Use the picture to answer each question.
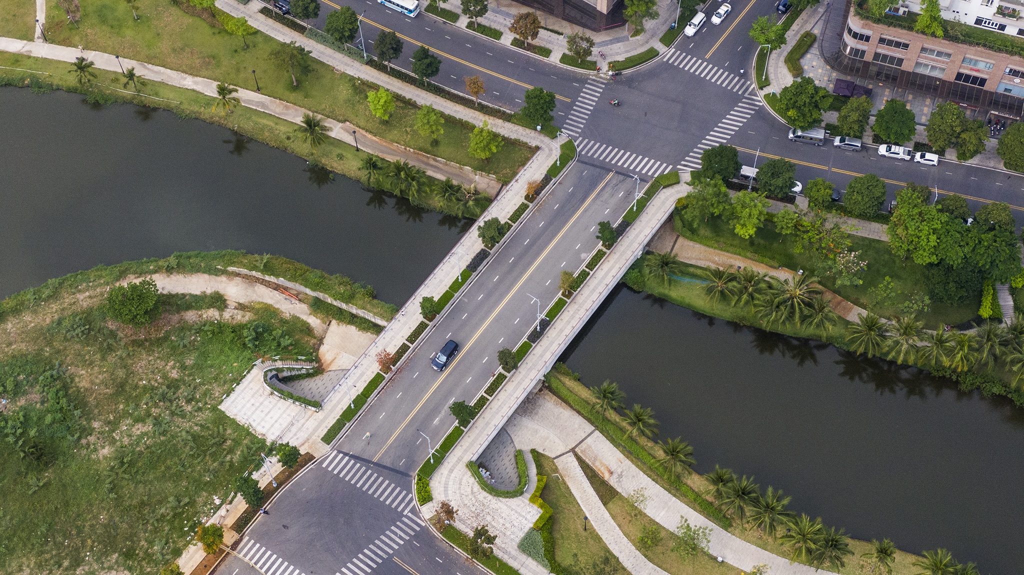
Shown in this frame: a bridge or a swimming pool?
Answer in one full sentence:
Visible in the photo is a bridge.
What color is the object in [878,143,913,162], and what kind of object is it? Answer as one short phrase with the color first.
white vehicle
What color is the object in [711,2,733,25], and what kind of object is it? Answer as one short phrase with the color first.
white car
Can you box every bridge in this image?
[320,145,677,478]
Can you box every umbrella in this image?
[853,84,873,102]
[832,78,855,98]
